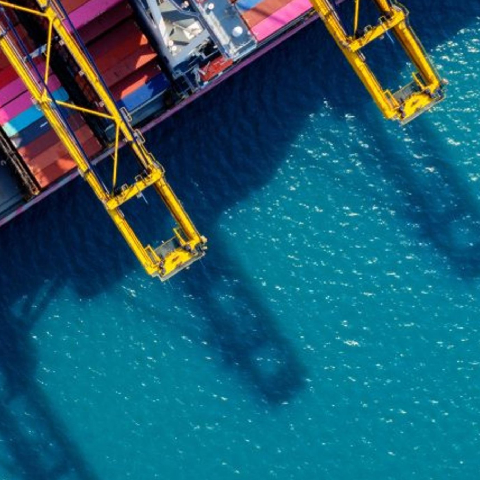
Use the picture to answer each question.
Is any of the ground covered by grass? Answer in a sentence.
No, the picture contains no grass.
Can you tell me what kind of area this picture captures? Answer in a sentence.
It's a port.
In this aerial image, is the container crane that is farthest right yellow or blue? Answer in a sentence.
From above, the container crane that is farthest right appears yellow.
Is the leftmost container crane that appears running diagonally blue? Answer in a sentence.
No, the leftmost container crane that appears running diagonally is actually yellow.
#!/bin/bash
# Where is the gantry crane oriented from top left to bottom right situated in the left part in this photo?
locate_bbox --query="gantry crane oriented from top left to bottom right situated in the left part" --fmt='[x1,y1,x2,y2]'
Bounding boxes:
[0,0,207,286]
